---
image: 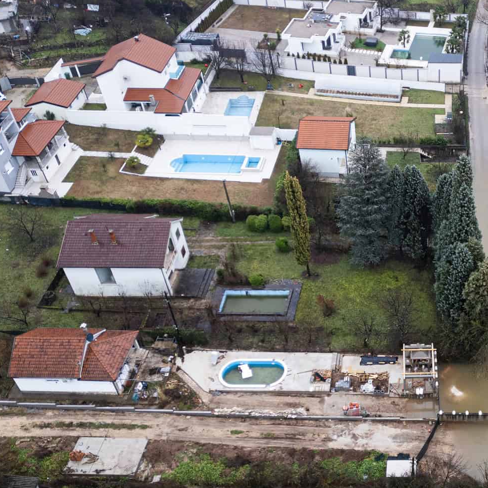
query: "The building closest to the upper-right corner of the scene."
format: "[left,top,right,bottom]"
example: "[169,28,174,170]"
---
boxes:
[427,55,463,86]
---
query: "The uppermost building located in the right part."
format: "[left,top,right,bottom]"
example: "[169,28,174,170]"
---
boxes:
[284,0,374,60]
